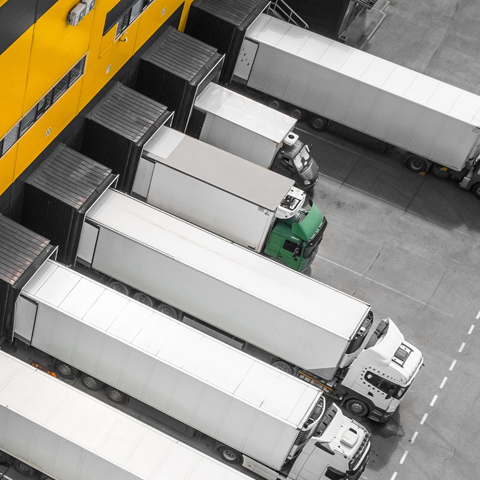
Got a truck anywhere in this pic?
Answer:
Yes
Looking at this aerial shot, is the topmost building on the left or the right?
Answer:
right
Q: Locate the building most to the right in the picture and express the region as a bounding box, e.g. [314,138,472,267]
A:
[268,0,362,39]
